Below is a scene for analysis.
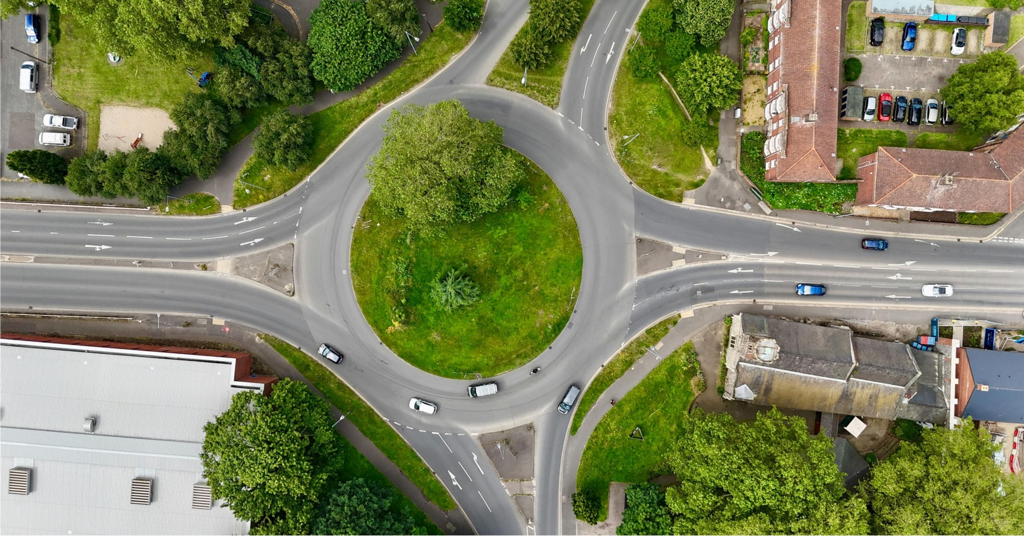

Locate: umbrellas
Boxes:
[842,414,867,439]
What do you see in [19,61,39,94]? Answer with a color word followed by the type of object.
white vehicle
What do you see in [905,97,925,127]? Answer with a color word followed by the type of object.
black car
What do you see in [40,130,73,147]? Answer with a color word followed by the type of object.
white vehicle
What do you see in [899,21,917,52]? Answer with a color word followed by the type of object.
blue car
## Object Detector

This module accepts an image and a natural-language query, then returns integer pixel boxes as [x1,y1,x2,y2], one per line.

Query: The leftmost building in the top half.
[761,0,842,184]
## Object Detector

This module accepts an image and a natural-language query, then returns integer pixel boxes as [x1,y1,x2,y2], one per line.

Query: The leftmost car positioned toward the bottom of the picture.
[316,342,345,365]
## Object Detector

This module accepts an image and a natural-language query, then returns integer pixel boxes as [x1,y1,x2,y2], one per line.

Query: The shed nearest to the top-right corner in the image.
[983,11,1011,47]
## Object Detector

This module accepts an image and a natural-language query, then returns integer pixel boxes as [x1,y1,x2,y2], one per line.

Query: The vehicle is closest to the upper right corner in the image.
[948,27,967,56]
